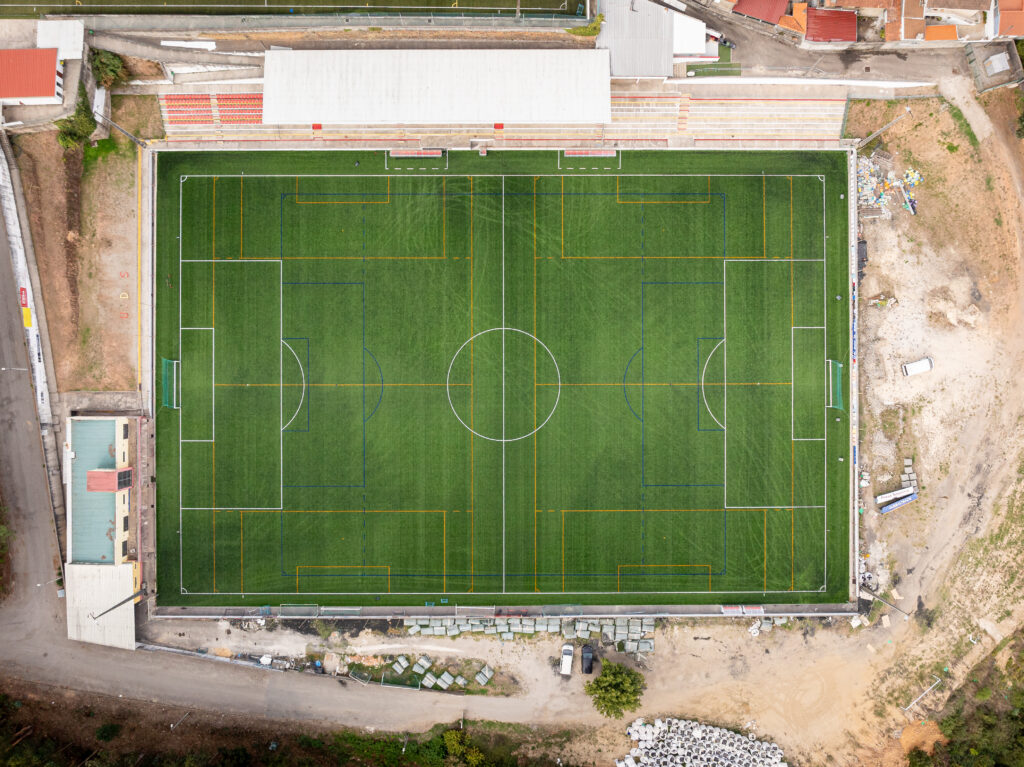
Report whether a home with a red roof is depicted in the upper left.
Yes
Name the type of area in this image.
sports ground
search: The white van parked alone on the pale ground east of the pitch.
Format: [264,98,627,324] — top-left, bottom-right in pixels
[900,358,932,376]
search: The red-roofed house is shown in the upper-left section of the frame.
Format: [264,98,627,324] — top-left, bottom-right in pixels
[0,48,68,104]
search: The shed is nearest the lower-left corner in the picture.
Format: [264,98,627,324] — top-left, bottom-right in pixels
[65,559,147,650]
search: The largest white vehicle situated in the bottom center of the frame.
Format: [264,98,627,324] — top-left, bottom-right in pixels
[560,642,574,675]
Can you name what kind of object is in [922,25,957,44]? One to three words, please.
house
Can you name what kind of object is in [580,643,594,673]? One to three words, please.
car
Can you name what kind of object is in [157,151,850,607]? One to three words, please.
soccer field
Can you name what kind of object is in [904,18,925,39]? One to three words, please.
house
